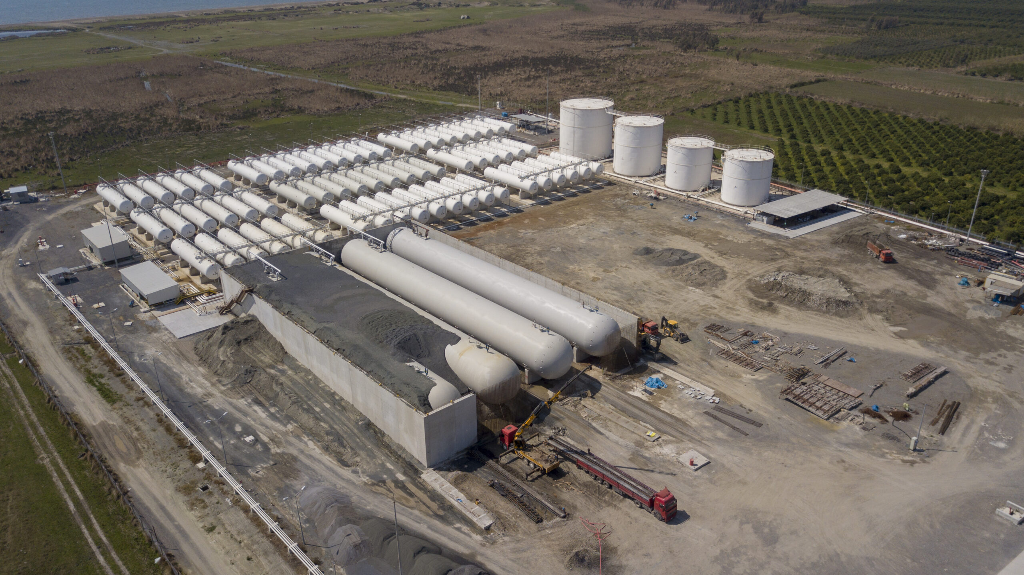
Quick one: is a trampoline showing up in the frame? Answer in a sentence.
No, I can see no trampoline in this picture.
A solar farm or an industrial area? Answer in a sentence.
This image shows an industrial area.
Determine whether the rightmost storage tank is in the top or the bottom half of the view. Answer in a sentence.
Seen from above, the rightmost storage tank lies in the top half of the view.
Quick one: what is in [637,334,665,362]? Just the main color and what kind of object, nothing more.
black work vehicle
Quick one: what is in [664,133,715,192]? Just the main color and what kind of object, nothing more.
white storage tank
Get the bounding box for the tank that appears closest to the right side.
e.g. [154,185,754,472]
[719,145,776,208]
